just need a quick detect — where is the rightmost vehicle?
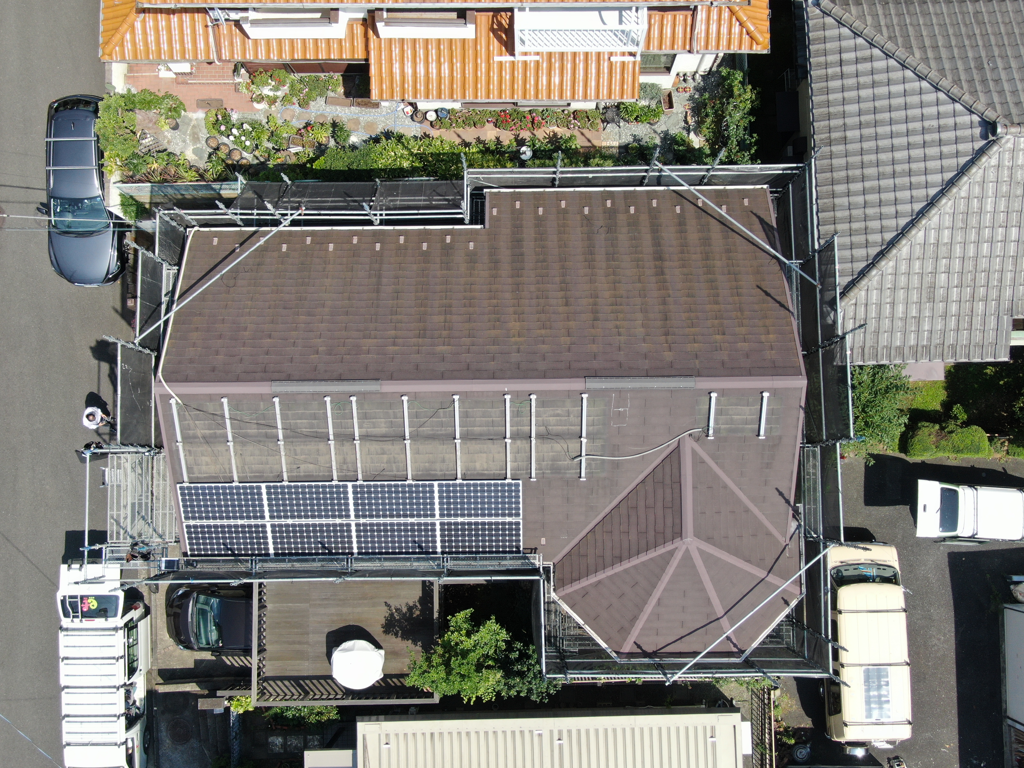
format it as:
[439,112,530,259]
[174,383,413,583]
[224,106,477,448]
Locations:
[919,480,1024,552]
